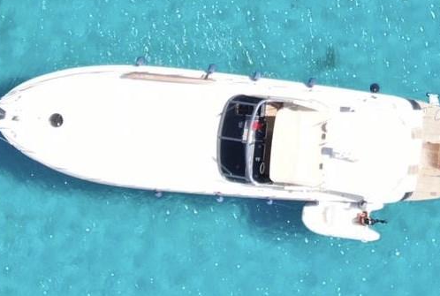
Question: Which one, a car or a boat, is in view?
boat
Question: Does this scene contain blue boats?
No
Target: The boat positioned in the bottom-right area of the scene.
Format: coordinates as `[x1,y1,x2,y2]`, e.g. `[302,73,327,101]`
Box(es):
[302,203,387,240]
